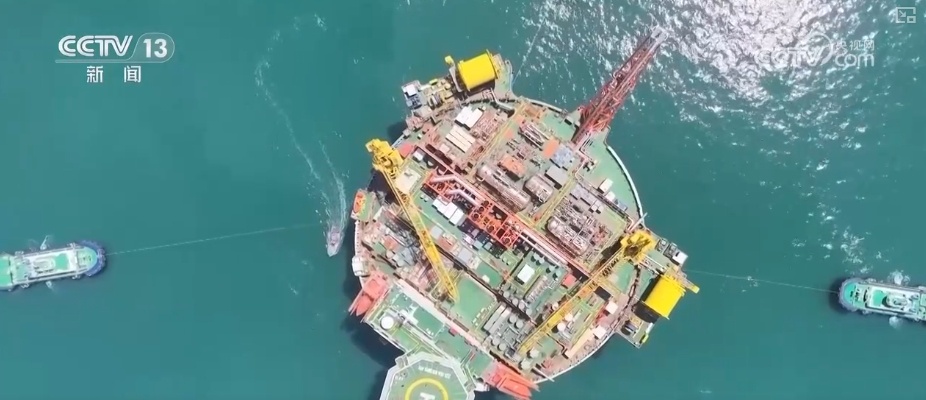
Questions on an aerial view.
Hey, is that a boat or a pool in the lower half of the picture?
boat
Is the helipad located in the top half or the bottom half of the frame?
bottom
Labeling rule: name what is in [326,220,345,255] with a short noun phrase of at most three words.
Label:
boat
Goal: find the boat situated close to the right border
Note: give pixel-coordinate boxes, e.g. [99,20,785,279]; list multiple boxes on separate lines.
[832,278,926,325]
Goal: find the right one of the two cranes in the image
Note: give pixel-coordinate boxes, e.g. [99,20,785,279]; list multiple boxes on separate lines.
[516,225,658,357]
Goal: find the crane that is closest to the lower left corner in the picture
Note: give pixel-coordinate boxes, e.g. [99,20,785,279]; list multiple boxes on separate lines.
[371,140,458,302]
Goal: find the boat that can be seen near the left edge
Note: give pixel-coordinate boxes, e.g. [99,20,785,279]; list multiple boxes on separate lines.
[0,242,111,287]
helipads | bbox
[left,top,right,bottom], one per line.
[379,349,477,400]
